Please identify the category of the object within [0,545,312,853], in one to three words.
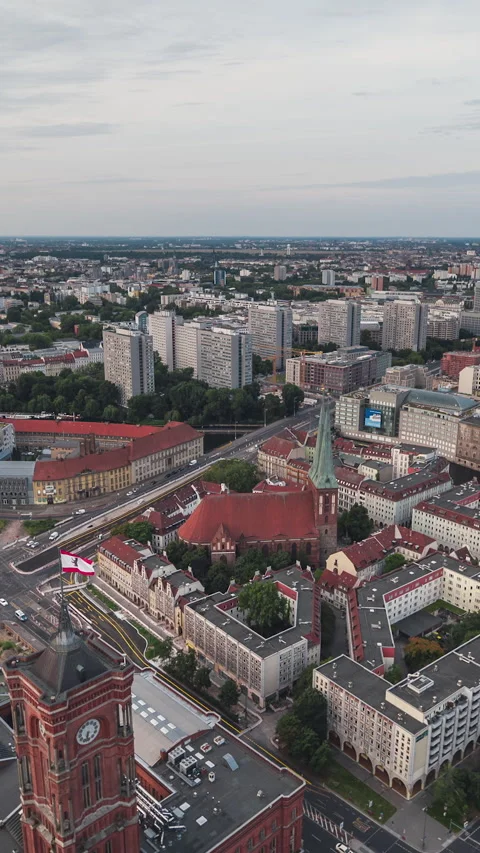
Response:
building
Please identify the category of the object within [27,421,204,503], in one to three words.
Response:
building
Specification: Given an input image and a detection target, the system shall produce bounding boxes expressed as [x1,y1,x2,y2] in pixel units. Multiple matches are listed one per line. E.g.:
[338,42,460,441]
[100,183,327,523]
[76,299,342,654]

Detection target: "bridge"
[202,412,318,459]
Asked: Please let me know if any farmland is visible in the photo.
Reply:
No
